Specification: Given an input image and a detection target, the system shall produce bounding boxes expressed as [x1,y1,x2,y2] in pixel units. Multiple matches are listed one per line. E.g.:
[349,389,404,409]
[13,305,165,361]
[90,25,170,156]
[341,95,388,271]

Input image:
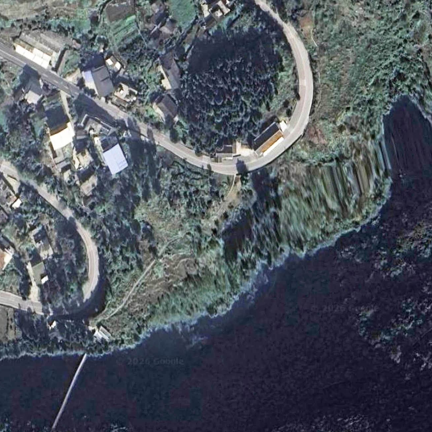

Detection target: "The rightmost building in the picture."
[254,121,287,157]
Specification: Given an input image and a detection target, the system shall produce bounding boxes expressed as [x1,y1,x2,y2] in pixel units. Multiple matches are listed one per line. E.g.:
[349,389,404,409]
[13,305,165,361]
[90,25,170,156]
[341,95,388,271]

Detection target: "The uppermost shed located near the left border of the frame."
[14,32,66,68]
